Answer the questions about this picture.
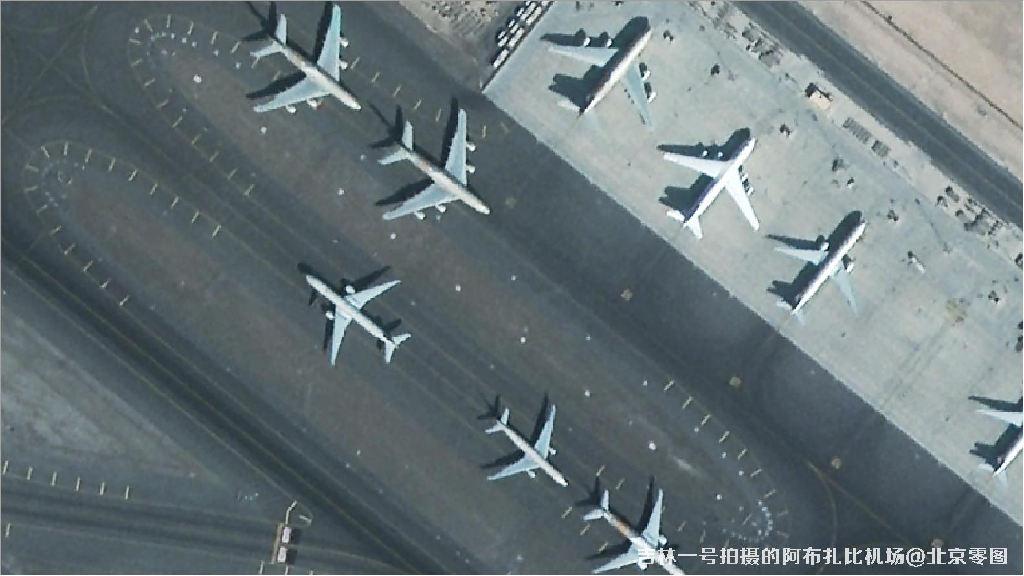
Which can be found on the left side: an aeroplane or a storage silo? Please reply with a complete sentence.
It is an aeroplane that can be seen on the left side.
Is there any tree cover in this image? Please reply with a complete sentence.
No, no tree cover is visible.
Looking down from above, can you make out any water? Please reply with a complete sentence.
No, no water is visible.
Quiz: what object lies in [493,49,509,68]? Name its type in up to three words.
vehicle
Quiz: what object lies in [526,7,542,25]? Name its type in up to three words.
vehicle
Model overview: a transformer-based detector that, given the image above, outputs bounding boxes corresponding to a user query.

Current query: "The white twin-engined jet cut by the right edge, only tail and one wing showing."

[975,405,1024,482]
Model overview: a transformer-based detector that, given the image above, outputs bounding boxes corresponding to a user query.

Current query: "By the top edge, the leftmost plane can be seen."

[252,4,361,114]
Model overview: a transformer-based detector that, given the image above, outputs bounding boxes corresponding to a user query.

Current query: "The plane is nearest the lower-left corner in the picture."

[306,274,406,365]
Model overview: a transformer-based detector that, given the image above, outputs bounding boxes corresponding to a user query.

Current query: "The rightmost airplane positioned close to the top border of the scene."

[546,25,657,133]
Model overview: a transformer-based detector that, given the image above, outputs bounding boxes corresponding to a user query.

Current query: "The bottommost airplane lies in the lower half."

[586,490,685,576]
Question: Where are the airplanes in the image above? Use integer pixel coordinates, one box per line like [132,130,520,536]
[774,223,866,323]
[586,490,685,576]
[252,4,361,114]
[975,405,1024,482]
[546,25,657,133]
[380,110,490,222]
[661,138,758,243]
[488,409,567,485]
[306,274,406,365]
